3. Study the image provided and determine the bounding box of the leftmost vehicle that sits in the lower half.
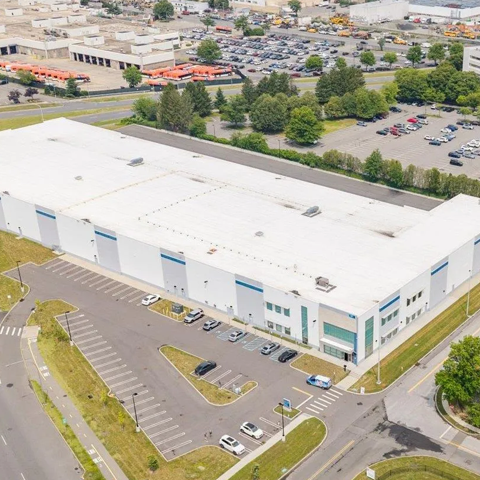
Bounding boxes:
[140,293,161,305]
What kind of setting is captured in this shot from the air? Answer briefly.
industrial area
